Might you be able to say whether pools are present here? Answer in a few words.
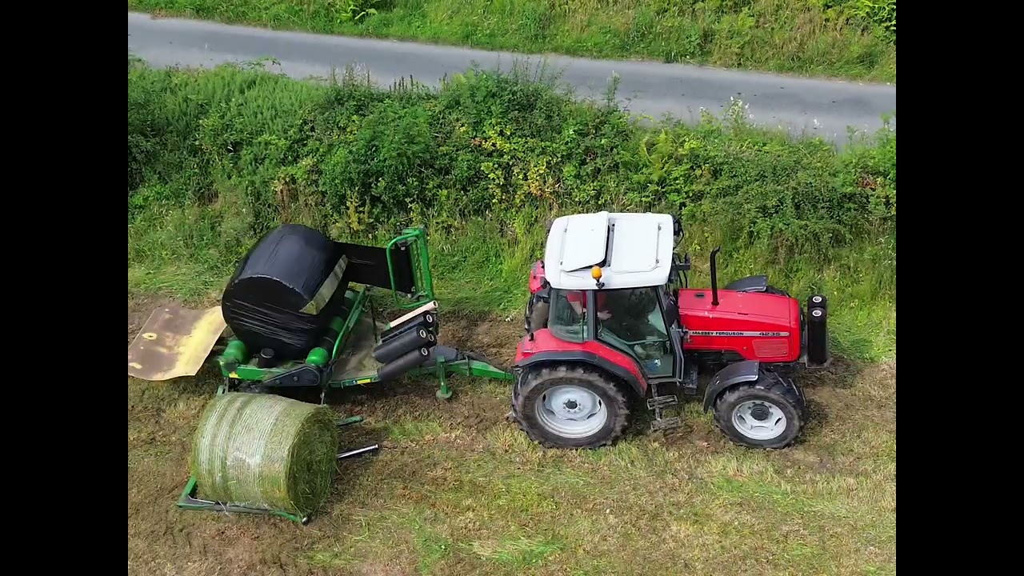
No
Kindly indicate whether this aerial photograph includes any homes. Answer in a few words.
No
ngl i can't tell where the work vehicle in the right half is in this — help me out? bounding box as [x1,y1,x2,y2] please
[480,209,834,449]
